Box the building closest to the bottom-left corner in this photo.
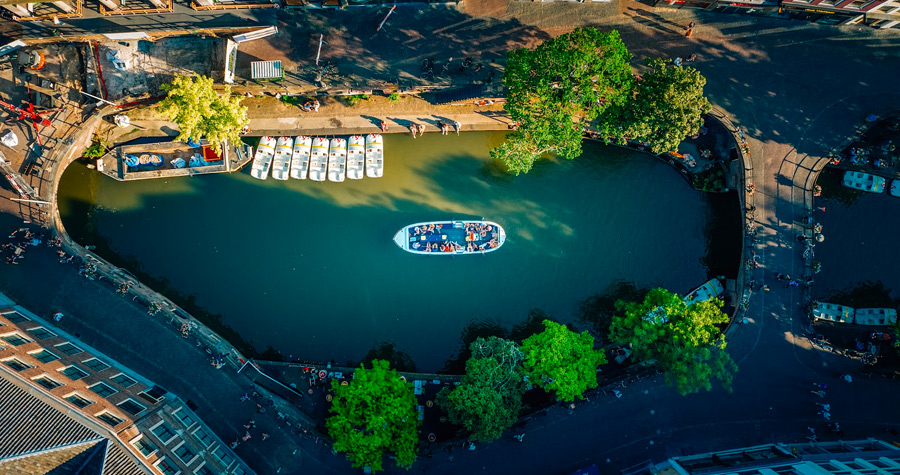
[0,293,261,475]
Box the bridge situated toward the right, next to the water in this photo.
[728,164,815,317]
